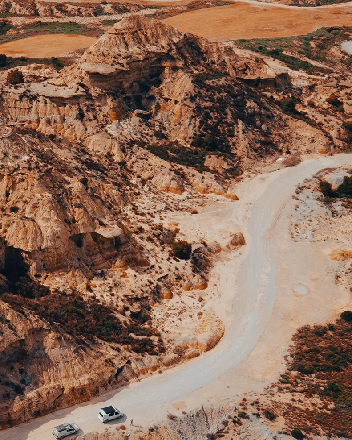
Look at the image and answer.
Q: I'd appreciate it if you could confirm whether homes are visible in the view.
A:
No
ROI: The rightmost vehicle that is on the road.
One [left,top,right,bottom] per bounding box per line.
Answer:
[98,405,124,423]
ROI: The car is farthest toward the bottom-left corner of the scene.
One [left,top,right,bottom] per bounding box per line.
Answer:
[53,423,80,438]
